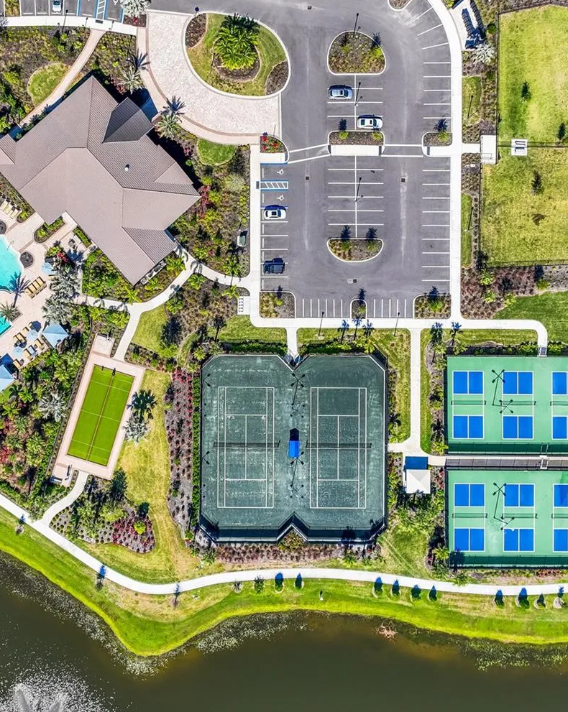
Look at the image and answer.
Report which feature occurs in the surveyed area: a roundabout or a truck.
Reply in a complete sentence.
The one in the frame is a roundabout.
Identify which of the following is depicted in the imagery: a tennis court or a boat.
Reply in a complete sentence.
There is a tennis court in the scene.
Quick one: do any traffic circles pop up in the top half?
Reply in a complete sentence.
Yes, the scene does show a traffic circle in the top half.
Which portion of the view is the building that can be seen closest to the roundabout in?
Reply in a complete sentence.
The building that can be seen closest to the roundabout is located in the top left region of the scene.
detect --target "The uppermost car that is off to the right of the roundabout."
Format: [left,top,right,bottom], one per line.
[329,86,352,99]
